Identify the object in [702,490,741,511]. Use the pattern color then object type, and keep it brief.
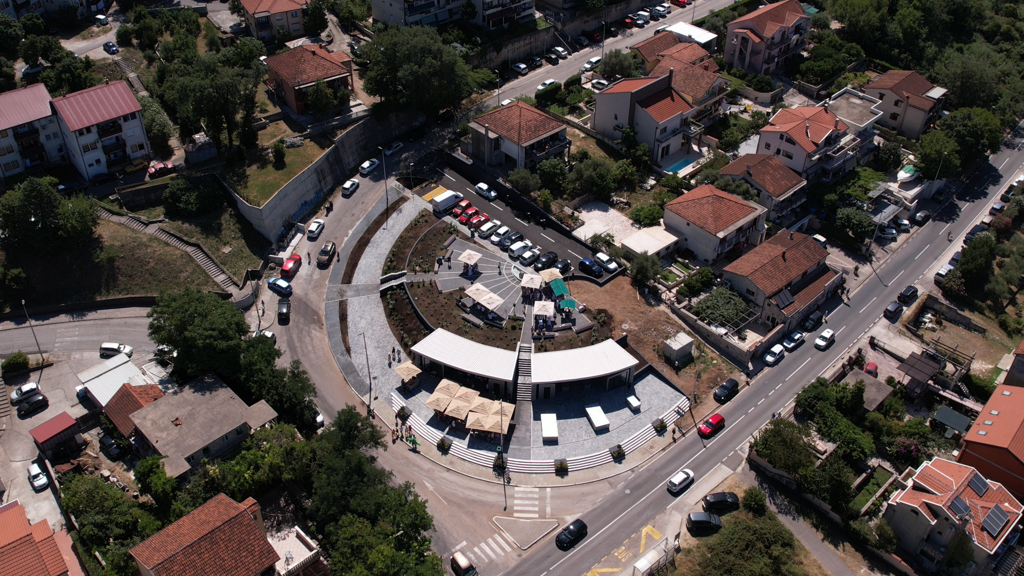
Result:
black car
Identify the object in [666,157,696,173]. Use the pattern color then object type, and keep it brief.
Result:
blue swimming pool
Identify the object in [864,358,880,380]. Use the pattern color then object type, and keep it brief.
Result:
red car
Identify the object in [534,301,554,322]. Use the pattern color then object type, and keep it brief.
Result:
white umbrella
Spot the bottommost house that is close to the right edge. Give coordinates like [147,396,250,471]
[880,453,1024,576]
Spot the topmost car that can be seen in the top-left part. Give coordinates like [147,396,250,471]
[87,12,114,27]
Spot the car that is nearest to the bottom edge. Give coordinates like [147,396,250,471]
[447,545,478,576]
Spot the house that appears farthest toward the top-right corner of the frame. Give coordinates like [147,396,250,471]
[865,64,948,135]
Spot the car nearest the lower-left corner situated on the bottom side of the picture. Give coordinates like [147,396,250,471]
[25,461,50,492]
